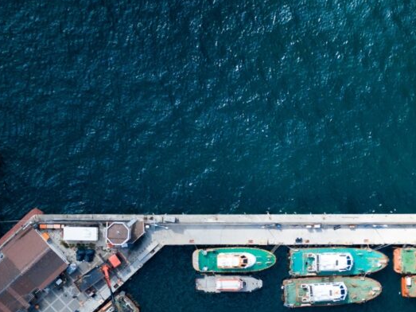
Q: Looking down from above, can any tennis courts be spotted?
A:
No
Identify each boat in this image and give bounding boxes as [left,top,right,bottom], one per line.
[393,246,416,275]
[196,275,262,294]
[290,248,389,278]
[401,275,416,298]
[283,277,382,308]
[100,292,138,312]
[193,247,277,274]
